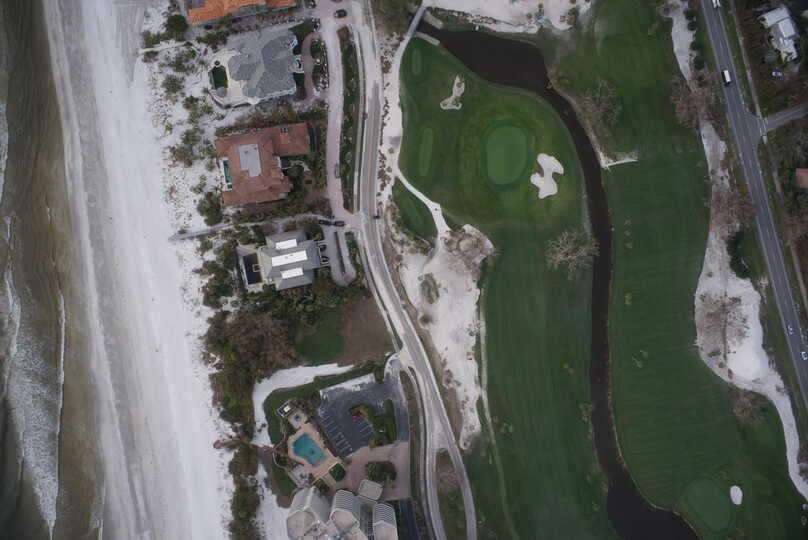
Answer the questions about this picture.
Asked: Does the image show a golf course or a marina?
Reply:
golf course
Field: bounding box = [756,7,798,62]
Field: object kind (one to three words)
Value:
house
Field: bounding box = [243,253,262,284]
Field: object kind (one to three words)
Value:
swimming pool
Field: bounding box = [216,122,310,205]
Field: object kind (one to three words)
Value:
house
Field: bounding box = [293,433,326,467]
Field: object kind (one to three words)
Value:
swimming pool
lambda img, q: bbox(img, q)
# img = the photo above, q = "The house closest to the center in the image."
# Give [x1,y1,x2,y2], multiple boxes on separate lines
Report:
[263,231,330,291]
